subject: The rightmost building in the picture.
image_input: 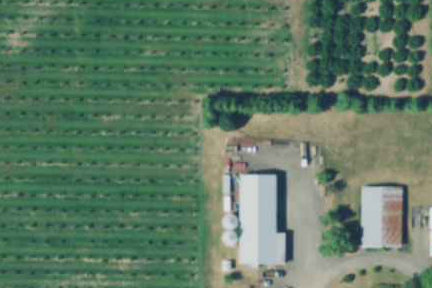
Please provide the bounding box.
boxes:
[362,187,404,248]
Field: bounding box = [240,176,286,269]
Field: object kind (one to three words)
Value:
shed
